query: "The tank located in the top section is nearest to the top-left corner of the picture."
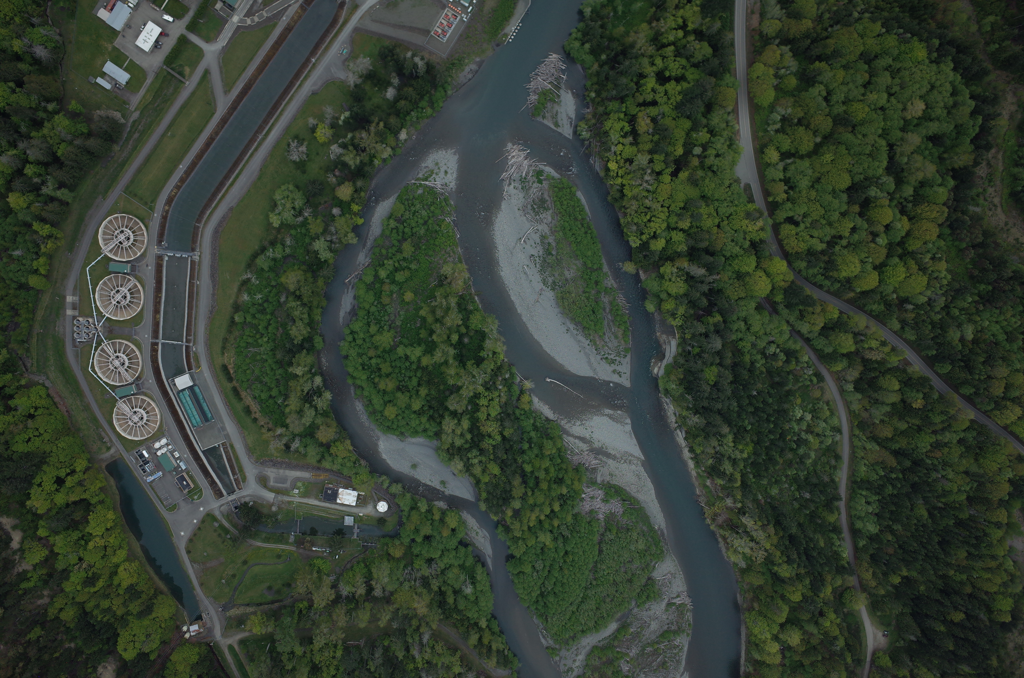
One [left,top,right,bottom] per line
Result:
[99,214,149,261]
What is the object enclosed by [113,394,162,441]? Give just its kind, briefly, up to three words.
storage tank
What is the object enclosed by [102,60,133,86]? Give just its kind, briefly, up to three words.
house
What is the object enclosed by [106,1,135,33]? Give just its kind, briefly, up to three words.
building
